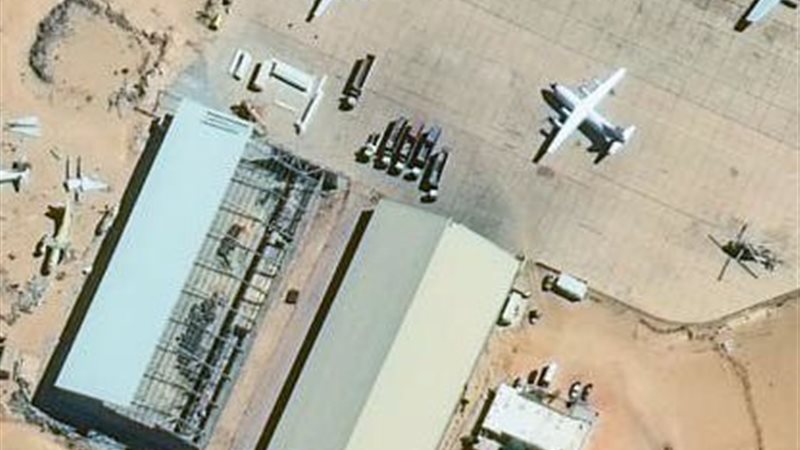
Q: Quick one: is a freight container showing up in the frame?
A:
Yes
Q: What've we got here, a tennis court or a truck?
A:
truck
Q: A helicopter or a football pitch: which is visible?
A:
helicopter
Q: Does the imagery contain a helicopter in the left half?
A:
No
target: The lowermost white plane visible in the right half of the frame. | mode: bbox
[548,68,638,156]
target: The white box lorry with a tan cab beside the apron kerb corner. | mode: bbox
[545,277,589,298]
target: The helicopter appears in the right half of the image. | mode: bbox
[723,218,786,276]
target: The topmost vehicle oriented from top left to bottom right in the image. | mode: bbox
[202,8,220,29]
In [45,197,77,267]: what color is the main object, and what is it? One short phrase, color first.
white airplane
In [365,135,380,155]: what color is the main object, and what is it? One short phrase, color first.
white vehicle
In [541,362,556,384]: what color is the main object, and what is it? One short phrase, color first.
white vehicle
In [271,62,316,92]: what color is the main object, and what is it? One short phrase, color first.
white shipping container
